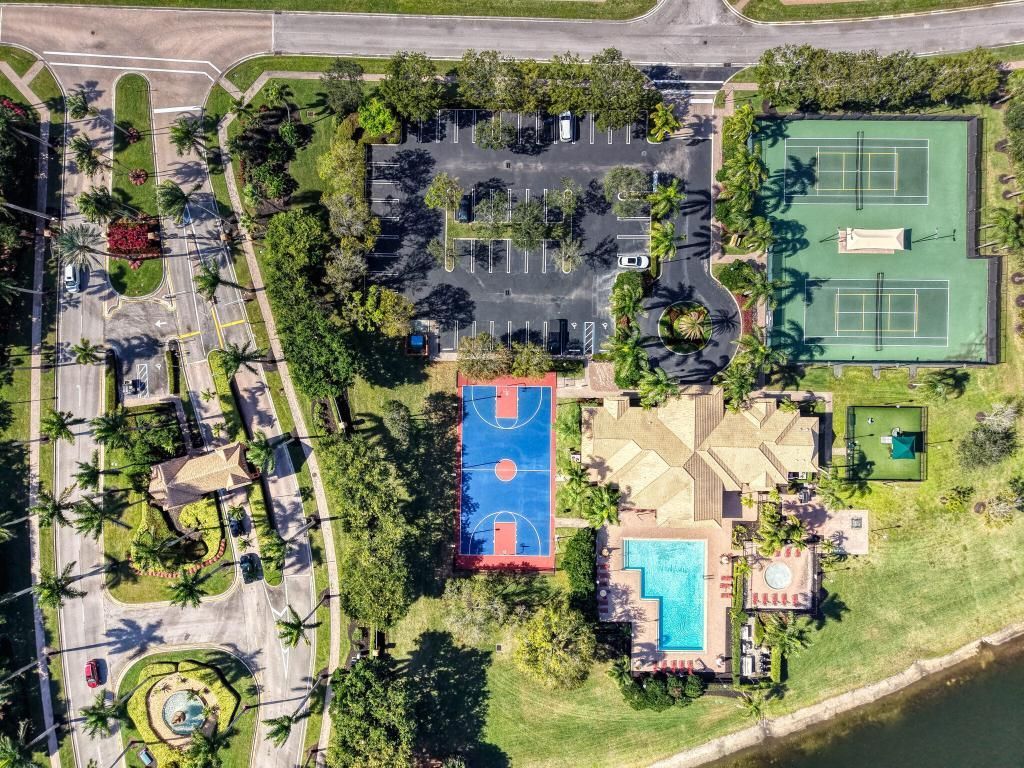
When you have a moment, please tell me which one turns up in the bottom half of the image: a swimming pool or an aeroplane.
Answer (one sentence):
You can see a swimming pool in the bottom half of the image.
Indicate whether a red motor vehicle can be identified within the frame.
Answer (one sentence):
Yes, a red motor vehicle appears in the view.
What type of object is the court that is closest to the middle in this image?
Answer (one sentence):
What you see as the court that is closest to the middle is a basketball court.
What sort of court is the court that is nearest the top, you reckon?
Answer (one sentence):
From above, the court that is nearest the top can be identified as a tennis court.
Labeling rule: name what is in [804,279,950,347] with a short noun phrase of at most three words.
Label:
tennis court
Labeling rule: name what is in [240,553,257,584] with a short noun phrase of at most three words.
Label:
car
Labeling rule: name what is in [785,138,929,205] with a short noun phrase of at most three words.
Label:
tennis court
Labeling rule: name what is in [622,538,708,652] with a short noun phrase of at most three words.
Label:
swimming pool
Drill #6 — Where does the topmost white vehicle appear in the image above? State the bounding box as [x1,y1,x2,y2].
[559,110,574,140]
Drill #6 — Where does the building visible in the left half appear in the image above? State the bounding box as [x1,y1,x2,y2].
[147,442,257,510]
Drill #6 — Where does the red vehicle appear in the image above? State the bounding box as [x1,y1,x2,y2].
[84,659,100,687]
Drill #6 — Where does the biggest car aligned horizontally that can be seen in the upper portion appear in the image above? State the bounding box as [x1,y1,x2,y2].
[621,253,650,267]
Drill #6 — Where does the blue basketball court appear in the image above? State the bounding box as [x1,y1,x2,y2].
[456,373,557,572]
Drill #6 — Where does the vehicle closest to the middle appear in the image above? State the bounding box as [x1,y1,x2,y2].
[548,319,563,353]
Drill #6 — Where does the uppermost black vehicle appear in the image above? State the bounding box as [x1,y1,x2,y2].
[542,112,556,140]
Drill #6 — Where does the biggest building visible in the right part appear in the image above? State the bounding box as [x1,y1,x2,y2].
[582,385,820,527]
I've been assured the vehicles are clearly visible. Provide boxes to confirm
[228,517,243,541]
[548,319,563,353]
[621,253,650,267]
[84,659,100,687]
[457,193,470,221]
[559,110,574,140]
[542,112,556,140]
[62,262,80,291]
[121,381,134,395]
[240,553,257,584]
